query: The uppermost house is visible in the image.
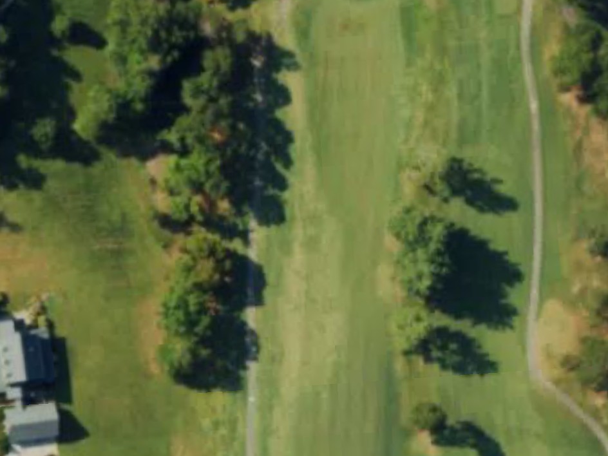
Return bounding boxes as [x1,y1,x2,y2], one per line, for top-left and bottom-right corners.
[0,318,56,409]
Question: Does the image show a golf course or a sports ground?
golf course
